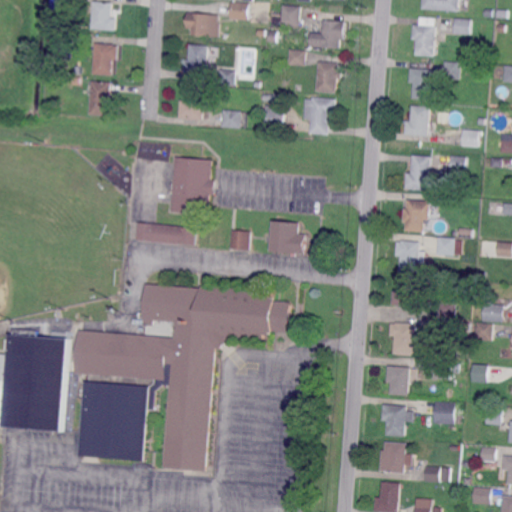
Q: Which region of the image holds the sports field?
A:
left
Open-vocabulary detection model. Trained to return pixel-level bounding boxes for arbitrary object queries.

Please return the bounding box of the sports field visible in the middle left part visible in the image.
[0,144,124,320]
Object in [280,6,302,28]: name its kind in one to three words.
house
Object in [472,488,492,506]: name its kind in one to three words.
building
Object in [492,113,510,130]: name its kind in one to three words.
swimming pool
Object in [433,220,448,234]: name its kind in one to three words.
swimming pool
